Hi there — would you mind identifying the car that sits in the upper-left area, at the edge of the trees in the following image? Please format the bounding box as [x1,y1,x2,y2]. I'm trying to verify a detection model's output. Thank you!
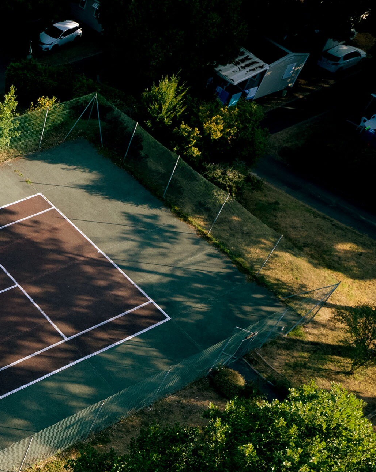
[32,19,92,56]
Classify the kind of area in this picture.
sports ground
